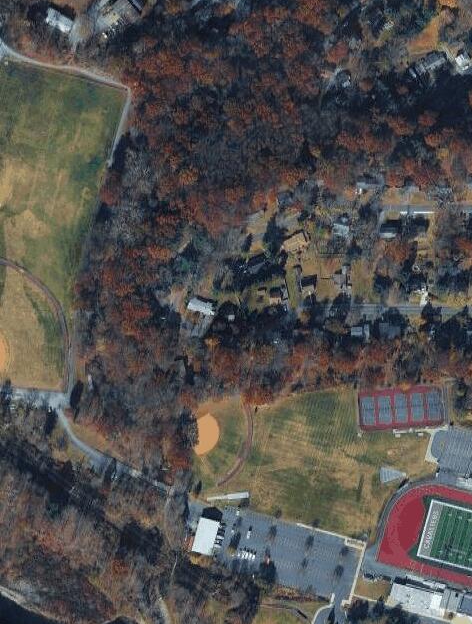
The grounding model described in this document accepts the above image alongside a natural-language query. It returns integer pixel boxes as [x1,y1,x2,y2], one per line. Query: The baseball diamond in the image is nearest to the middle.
[193,400,253,487]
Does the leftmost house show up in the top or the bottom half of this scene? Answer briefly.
top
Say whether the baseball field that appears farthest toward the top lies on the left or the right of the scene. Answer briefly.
left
